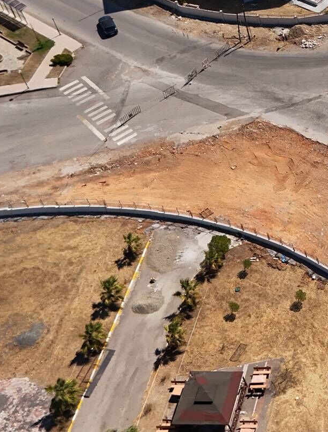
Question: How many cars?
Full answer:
Altogether the scene contains 1 car.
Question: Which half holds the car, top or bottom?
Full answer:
The car sits in the top half of the picture.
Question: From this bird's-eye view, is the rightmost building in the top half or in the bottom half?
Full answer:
The rightmost building is in the bottom half of the image.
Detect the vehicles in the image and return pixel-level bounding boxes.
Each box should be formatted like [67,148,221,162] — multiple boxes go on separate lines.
[94,13,117,36]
